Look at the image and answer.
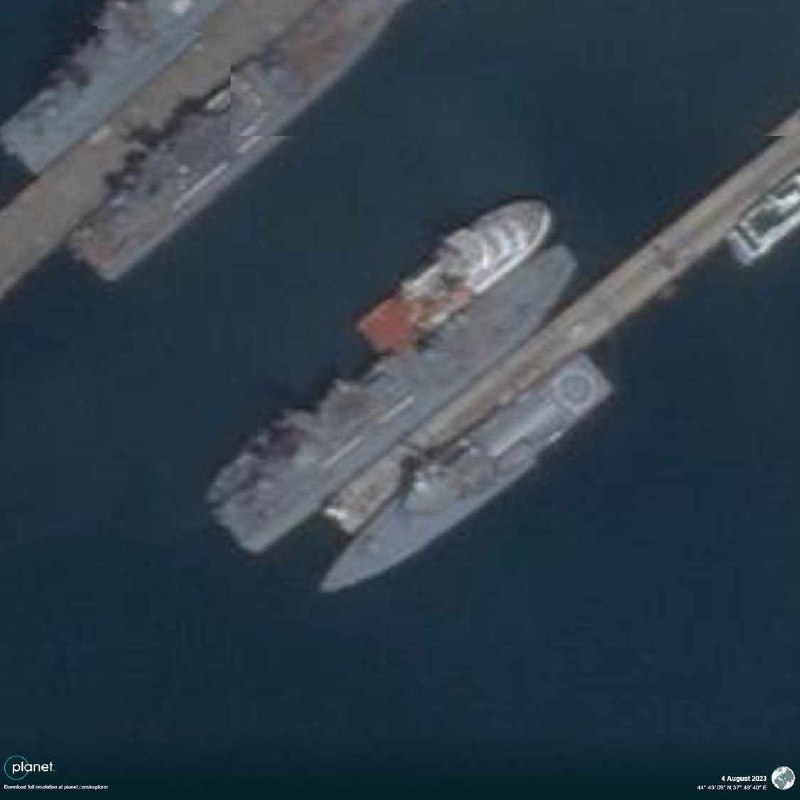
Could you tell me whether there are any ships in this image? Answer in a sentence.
Yes, you can see a ship in this photo.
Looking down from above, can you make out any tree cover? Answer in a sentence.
No, there's no tree cover in this view.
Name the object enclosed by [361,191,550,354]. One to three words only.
boat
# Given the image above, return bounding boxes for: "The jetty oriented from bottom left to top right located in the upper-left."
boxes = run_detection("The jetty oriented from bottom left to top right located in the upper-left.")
[0,0,335,300]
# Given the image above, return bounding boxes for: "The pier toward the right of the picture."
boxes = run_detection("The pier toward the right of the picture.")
[325,111,800,538]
